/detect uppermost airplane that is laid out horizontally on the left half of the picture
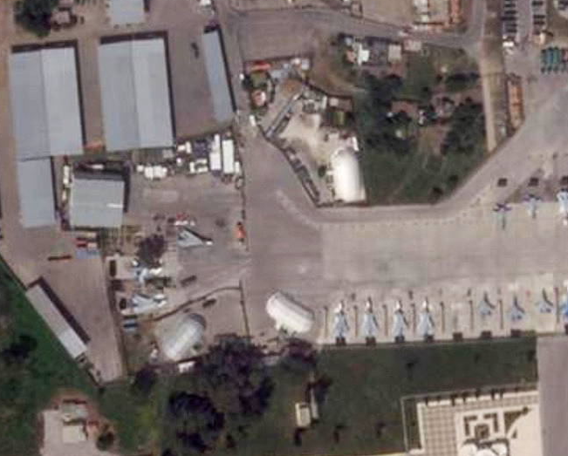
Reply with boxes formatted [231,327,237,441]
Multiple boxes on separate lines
[176,230,211,245]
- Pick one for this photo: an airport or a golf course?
airport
